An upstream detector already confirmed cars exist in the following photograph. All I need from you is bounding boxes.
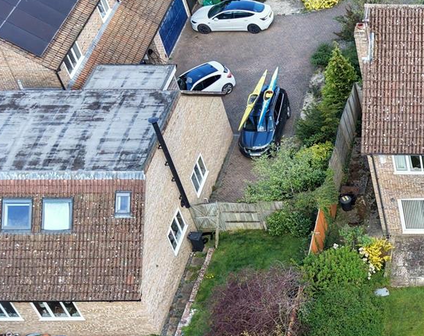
[188,0,279,36]
[234,82,299,161]
[163,53,248,96]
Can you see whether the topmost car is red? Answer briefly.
No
